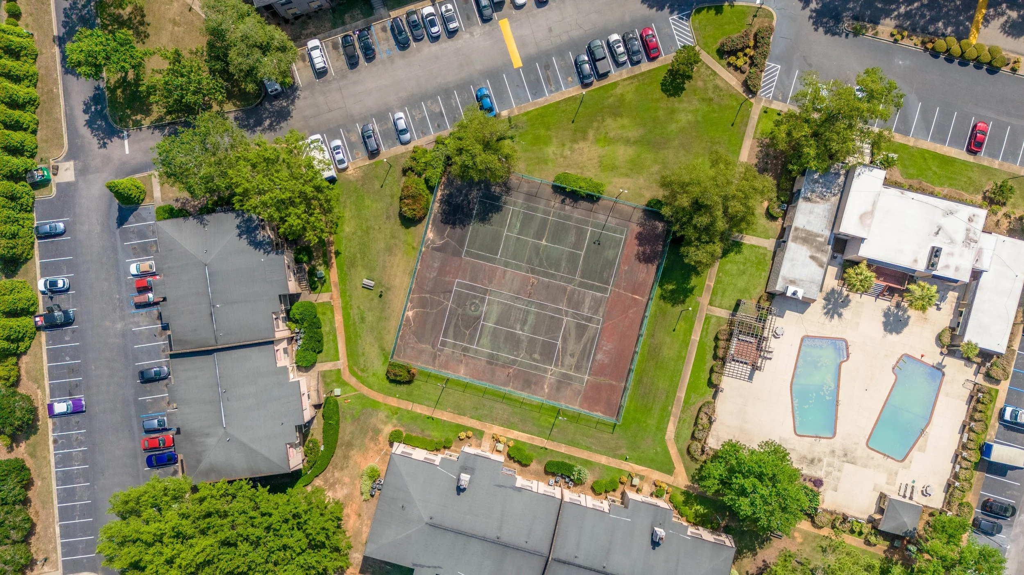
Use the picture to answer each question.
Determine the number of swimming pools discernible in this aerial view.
two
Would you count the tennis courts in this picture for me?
1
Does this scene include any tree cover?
Yes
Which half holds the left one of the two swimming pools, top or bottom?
bottom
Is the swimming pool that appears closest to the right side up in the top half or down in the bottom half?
bottom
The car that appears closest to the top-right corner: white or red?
red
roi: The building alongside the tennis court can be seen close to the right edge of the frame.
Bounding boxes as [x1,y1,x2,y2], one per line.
[766,164,1024,354]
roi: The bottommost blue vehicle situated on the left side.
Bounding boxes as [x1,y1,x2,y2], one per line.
[149,452,178,468]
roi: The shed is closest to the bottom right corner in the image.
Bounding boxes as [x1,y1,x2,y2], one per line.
[863,492,922,539]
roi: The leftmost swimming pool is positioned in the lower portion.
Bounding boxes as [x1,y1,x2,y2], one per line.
[791,336,849,441]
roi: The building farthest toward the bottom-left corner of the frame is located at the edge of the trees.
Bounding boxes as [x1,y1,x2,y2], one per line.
[153,214,320,484]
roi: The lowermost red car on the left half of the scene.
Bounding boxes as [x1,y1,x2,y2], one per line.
[142,434,175,450]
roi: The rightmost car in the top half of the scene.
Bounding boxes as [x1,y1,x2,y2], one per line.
[966,121,987,153]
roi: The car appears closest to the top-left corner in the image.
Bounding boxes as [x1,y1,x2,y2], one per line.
[36,222,69,237]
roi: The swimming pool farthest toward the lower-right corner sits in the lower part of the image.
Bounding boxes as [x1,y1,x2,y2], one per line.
[867,354,946,463]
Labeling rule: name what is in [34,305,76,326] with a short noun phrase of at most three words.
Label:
truck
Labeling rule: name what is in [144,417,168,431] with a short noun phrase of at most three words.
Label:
car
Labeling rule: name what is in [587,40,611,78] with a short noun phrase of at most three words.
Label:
truck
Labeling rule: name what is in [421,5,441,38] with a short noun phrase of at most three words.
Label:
car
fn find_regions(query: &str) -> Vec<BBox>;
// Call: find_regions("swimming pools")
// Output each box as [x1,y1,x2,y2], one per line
[791,336,849,441]
[867,354,946,463]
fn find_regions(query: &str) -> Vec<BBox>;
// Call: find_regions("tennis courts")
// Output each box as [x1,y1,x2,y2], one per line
[395,162,668,418]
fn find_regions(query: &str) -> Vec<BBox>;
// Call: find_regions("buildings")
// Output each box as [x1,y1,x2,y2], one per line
[863,492,922,539]
[271,0,333,19]
[766,164,1024,354]
[364,442,737,575]
[153,214,320,484]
